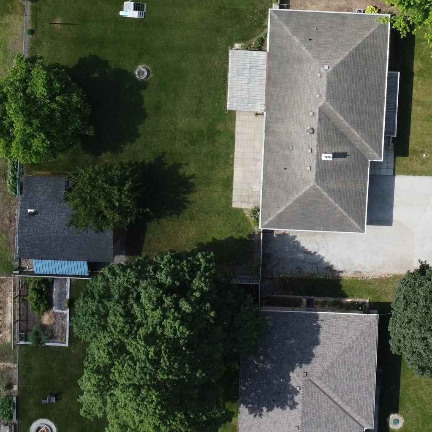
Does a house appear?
Yes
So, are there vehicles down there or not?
No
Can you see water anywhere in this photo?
No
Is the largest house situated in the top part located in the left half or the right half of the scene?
right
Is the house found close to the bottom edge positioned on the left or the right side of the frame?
right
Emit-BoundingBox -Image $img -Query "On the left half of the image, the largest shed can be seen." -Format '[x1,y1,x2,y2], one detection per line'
[22,174,119,262]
